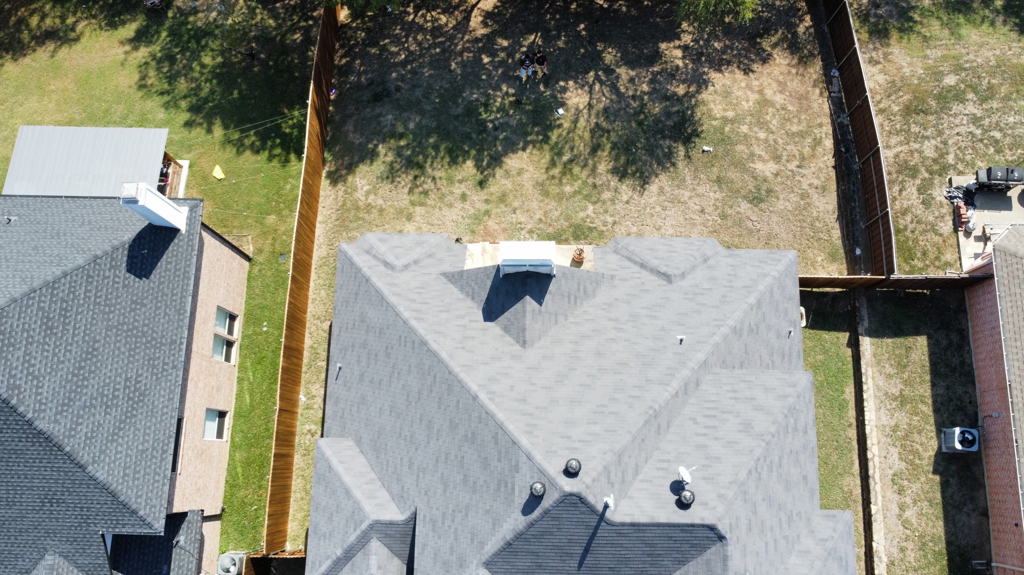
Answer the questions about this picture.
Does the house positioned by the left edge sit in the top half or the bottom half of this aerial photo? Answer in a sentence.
The house positioned by the left edge sits in the bottom half of the picture.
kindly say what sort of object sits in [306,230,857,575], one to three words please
house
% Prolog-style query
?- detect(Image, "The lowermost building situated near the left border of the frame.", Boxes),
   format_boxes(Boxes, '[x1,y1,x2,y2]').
[0,180,253,575]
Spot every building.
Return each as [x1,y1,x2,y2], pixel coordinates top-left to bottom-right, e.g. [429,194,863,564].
[0,180,253,575]
[963,221,1024,575]
[306,230,857,575]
